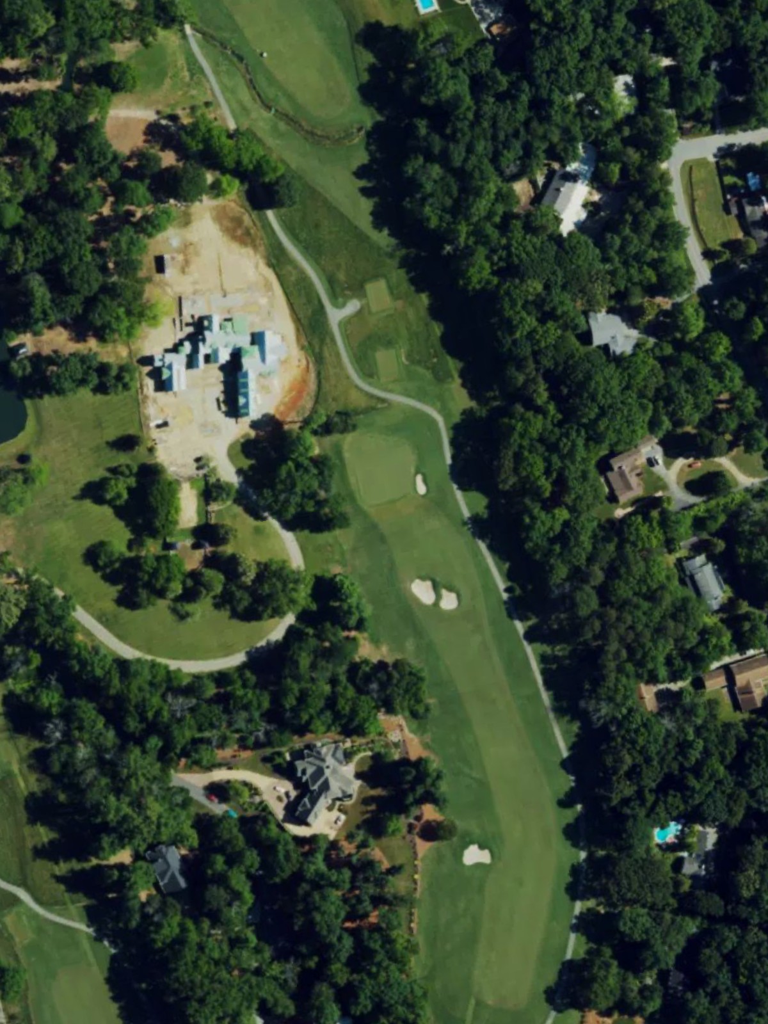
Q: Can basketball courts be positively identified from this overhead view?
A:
No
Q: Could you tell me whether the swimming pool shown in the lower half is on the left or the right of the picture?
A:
right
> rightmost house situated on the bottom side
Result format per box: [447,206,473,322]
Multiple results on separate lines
[727,653,768,715]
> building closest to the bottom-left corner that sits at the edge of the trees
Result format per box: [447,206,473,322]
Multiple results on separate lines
[143,842,187,894]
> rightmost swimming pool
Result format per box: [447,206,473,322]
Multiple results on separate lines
[746,171,761,192]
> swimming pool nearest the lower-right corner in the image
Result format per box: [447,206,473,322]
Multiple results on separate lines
[655,821,681,844]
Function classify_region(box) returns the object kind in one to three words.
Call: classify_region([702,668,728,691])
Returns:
building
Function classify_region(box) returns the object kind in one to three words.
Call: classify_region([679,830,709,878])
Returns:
building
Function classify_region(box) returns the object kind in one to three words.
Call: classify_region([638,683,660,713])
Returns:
house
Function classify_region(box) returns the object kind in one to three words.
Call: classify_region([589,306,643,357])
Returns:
house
